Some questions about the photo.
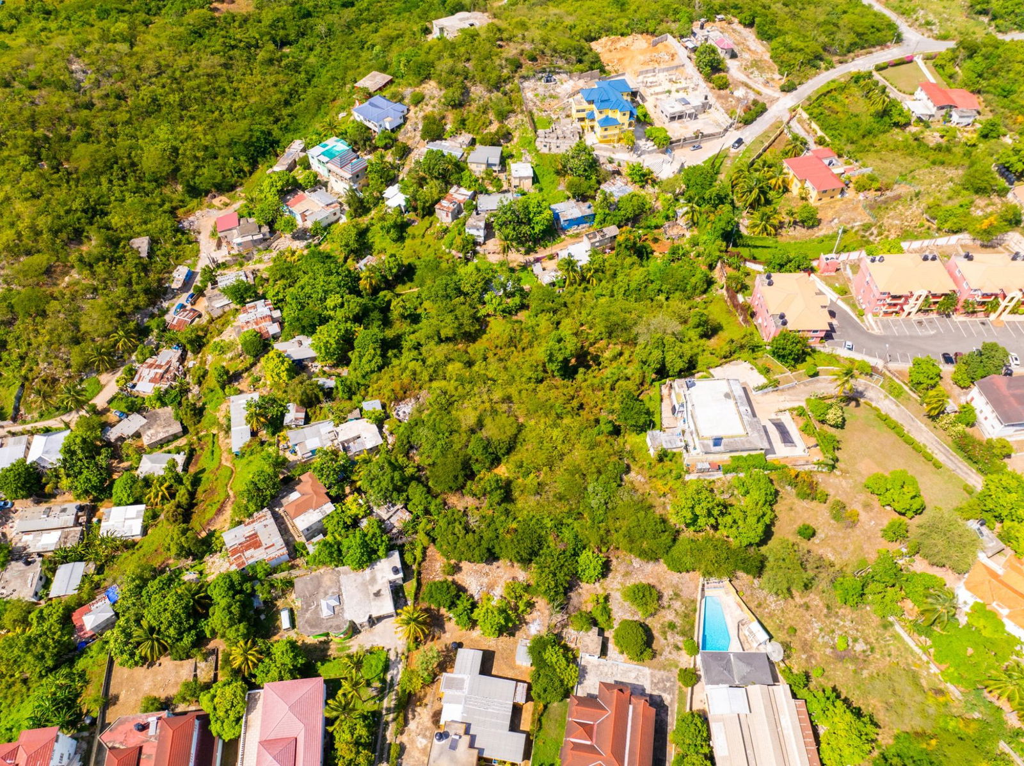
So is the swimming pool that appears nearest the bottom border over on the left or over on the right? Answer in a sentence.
You can find the swimming pool that appears nearest the bottom border on the right side of the picture.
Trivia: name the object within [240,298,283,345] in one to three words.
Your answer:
shed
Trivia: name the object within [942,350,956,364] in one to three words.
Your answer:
car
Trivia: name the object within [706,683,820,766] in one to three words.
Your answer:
building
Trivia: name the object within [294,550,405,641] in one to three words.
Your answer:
house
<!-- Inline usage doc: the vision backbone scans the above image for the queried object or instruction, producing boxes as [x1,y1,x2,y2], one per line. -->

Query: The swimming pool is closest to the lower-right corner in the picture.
[700,578,768,652]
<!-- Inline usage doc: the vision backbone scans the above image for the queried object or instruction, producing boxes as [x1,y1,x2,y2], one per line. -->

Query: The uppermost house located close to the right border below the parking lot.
[969,375,1024,448]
